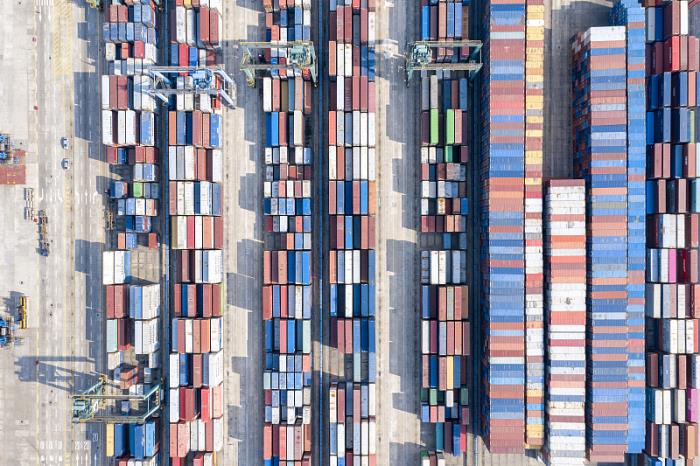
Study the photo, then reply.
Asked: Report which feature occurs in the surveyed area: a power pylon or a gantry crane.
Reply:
gantry crane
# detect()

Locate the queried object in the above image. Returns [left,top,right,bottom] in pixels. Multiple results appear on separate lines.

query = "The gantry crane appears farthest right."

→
[407,40,488,87]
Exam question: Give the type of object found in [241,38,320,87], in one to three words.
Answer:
container crane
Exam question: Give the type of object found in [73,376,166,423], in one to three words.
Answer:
container crane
